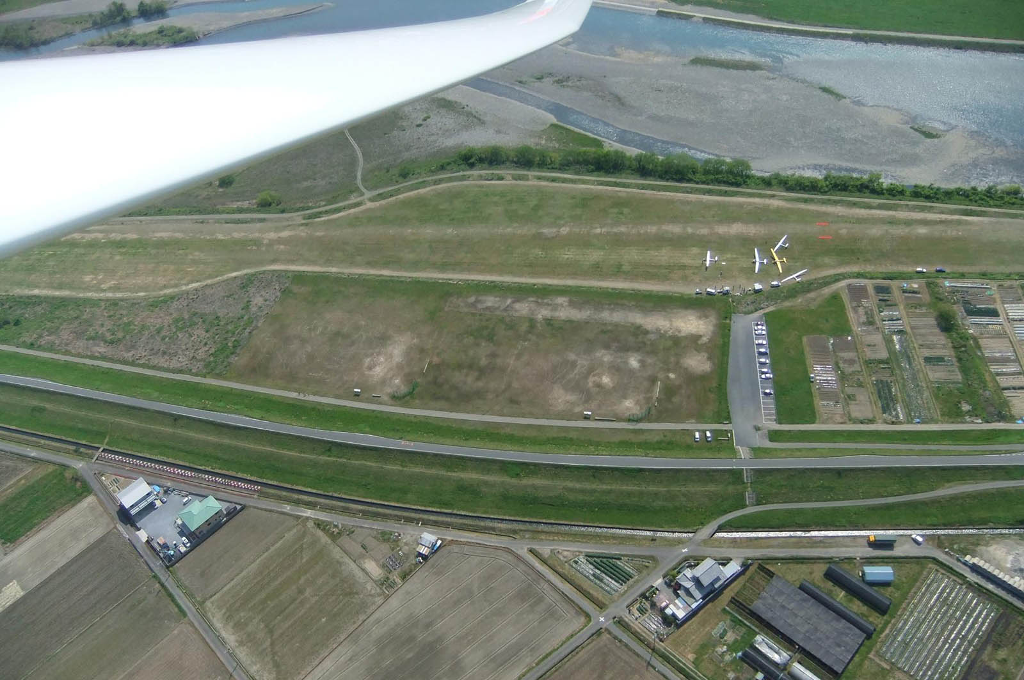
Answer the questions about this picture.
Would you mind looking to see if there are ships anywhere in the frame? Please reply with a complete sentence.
No, the photo shows no ship.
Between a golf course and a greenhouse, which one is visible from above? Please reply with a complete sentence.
There is a greenhouse in the scene.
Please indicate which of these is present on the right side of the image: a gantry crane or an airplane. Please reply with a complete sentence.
It is an airplane that can be seen on the right side of the image.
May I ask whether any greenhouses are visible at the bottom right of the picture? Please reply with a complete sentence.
Yes, there is a greenhouse at the bottom right of the picture.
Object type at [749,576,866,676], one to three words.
house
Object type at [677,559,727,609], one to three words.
house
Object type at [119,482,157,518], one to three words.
building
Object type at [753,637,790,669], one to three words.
greenhouse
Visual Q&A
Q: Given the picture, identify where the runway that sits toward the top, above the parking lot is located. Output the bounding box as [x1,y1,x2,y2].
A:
[0,179,1024,299]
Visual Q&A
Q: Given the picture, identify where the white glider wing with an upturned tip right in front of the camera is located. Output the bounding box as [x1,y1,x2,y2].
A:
[0,0,600,259]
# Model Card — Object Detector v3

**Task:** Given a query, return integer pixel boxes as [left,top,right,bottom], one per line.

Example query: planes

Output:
[776,234,788,253]
[702,251,718,266]
[780,271,809,280]
[770,248,786,272]
[752,248,767,272]
[0,0,600,259]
